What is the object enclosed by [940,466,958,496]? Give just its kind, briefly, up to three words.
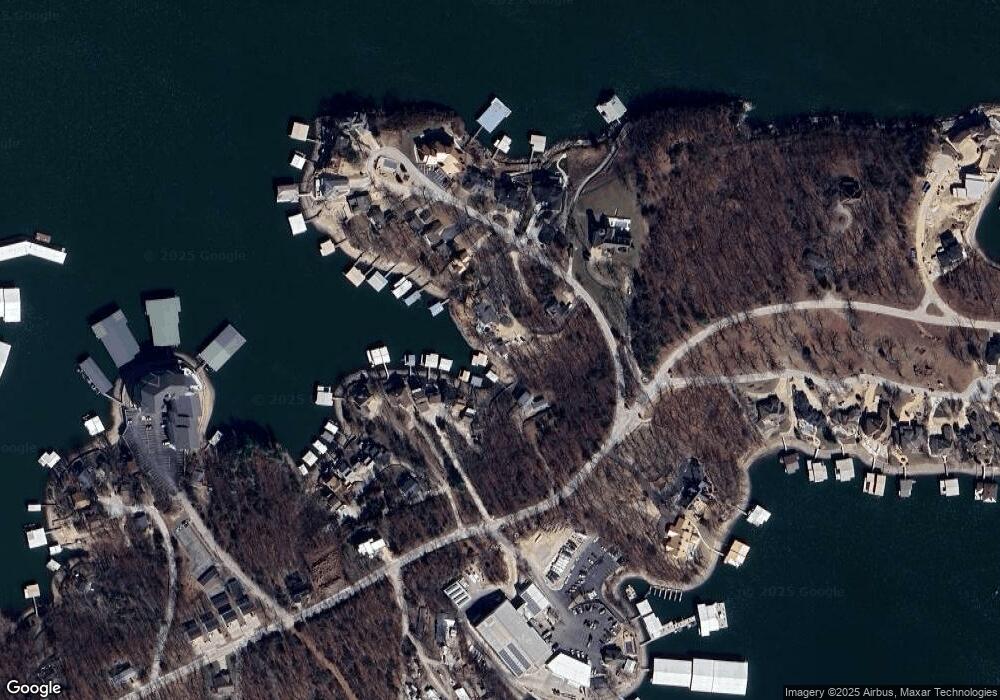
pier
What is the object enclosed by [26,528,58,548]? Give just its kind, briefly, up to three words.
pier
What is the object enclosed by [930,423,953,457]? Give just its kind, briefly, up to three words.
house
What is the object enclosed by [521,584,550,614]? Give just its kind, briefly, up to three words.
building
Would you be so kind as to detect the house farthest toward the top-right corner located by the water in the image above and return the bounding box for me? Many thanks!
[946,116,993,145]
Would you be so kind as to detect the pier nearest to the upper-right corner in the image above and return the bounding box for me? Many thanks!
[598,96,626,127]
